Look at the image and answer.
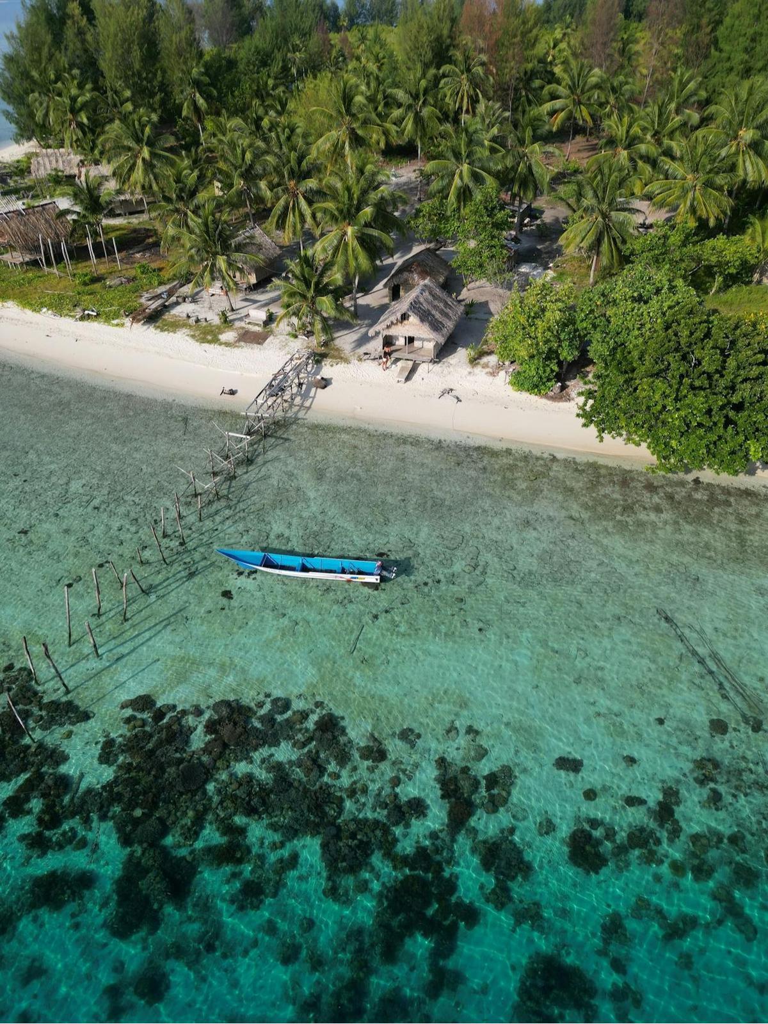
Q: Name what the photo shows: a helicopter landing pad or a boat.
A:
boat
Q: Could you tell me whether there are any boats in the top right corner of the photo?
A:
No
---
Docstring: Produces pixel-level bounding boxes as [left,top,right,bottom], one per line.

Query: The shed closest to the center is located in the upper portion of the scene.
[369,279,466,375]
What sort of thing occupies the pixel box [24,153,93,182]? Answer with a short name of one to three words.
shed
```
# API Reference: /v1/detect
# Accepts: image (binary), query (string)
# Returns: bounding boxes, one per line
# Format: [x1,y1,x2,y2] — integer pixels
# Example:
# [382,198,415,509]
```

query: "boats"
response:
[216,549,397,586]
